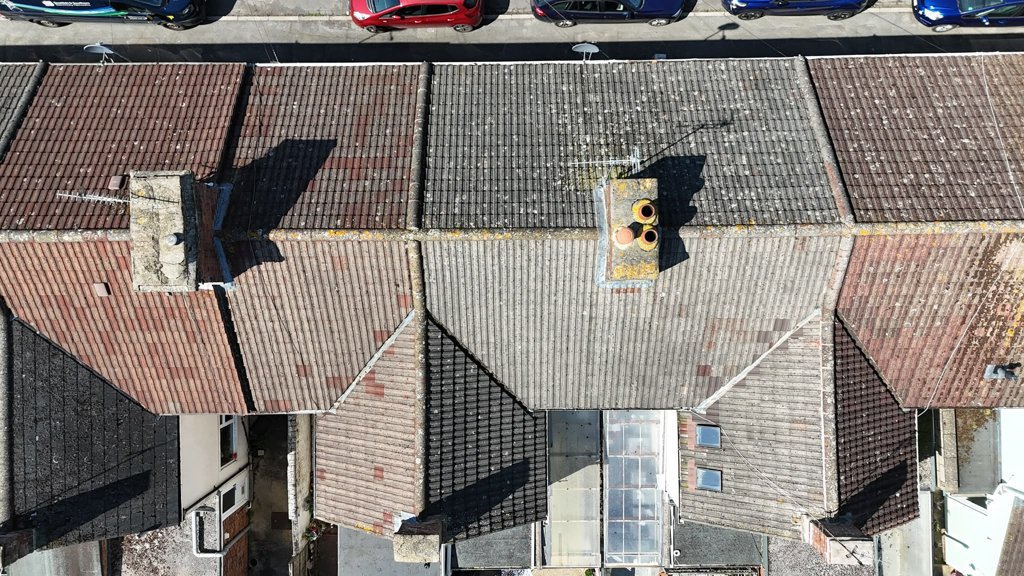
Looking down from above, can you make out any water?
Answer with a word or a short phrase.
No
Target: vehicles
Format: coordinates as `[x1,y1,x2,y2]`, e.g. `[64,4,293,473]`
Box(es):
[721,0,875,22]
[0,0,211,29]
[531,0,686,28]
[349,0,483,34]
[910,0,1024,34]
